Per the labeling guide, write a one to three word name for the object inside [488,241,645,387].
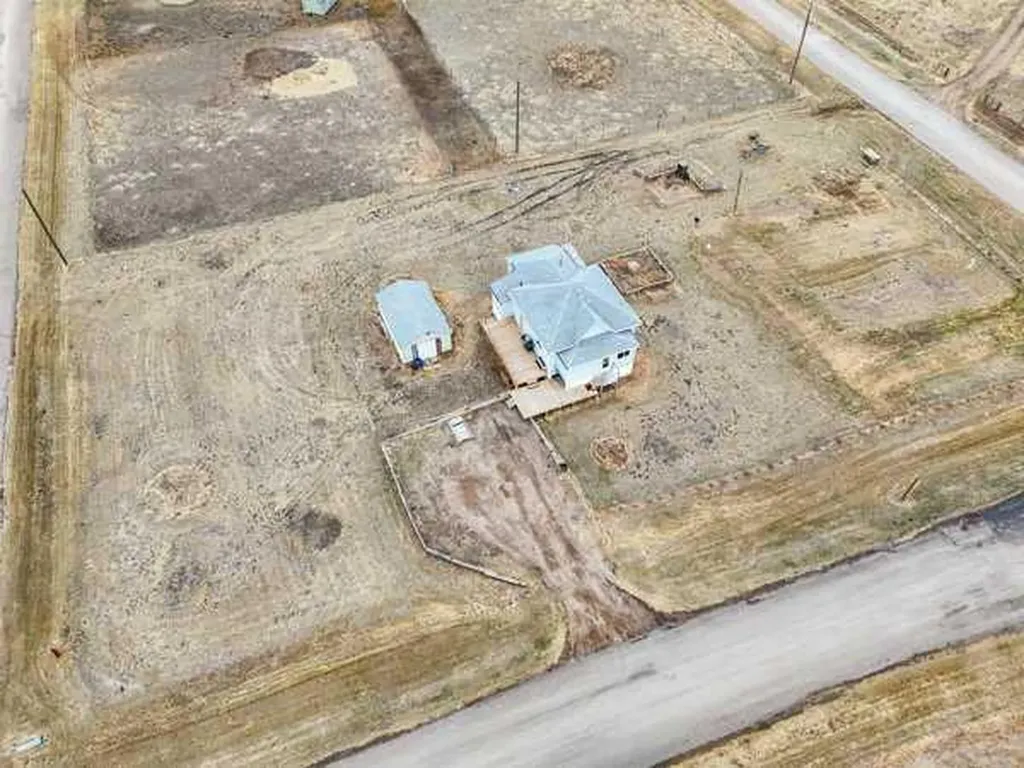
house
